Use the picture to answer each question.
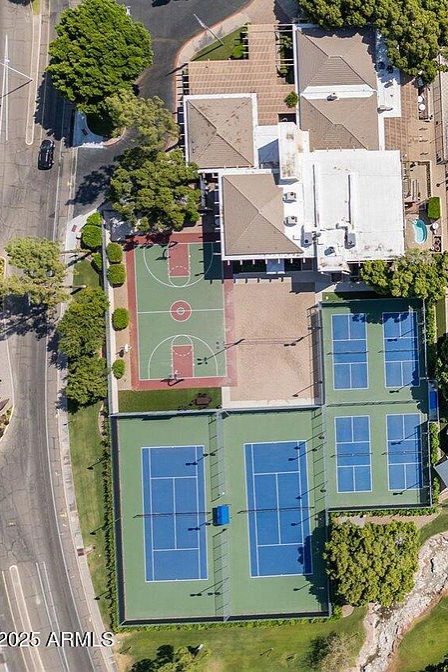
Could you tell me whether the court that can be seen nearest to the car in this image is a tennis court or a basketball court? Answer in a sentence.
The court that can be seen nearest to the car can be classified as a basketball court.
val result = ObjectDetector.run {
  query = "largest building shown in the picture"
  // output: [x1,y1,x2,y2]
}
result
[179,23,406,276]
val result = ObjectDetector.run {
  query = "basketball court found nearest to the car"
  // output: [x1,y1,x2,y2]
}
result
[126,234,236,390]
